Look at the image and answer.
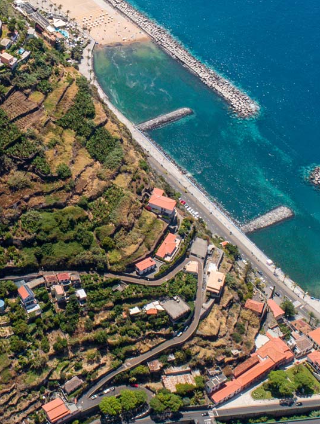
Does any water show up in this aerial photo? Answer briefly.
Yes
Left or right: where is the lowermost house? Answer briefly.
left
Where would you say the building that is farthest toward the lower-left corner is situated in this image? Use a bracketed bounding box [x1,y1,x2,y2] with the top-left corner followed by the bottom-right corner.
[42,400,71,424]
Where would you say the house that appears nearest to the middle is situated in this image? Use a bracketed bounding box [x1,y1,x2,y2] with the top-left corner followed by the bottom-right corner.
[148,188,177,219]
